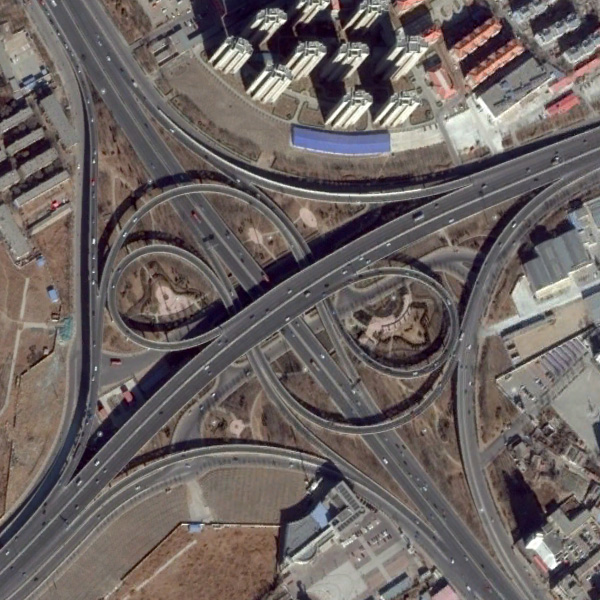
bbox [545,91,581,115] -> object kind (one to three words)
shed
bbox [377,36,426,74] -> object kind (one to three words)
building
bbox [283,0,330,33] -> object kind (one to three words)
building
